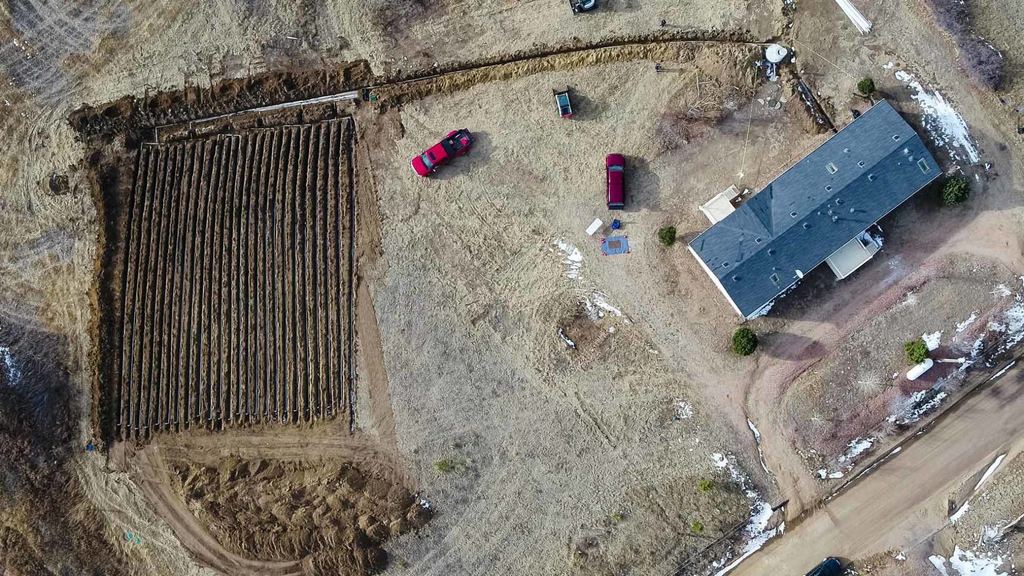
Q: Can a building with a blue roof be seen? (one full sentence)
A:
Yes, the picture does show a building with a blue roof.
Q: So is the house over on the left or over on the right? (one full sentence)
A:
It is on the right.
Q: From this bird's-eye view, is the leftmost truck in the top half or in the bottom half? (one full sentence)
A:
The leftmost truck sits in the top half of the picture.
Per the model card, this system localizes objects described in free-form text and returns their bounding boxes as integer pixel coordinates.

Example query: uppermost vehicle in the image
[569,0,594,22]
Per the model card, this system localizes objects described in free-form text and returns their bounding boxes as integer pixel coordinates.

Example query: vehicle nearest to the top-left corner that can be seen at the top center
[410,127,475,175]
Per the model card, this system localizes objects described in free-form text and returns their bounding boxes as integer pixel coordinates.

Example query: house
[685,97,942,319]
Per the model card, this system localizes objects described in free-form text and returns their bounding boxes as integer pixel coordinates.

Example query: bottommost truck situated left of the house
[605,154,628,210]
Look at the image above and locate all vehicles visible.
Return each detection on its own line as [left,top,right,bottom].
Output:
[569,0,594,22]
[554,86,574,120]
[798,557,842,576]
[410,127,475,175]
[605,154,628,210]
